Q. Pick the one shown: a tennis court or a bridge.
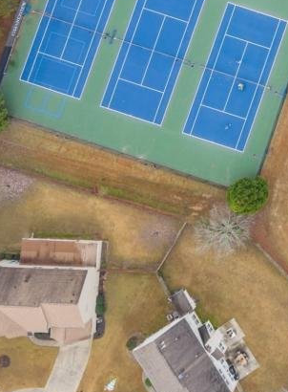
tennis court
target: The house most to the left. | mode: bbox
[0,236,104,343]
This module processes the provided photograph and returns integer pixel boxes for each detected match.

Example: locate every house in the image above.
[0,236,104,343]
[133,314,238,392]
